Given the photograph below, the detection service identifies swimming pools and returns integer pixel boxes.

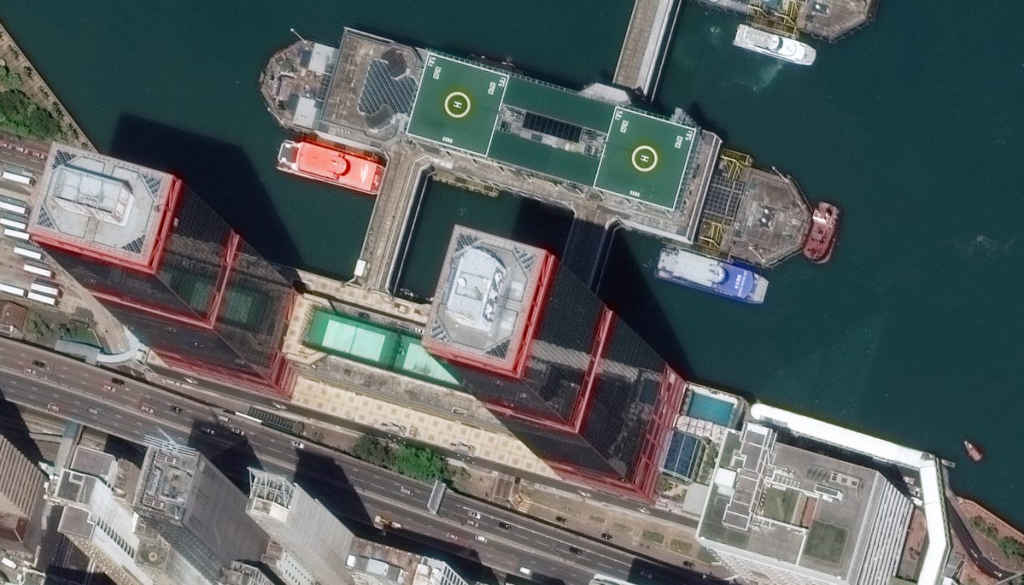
[681,384,753,432]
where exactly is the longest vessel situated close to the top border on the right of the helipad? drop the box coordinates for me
[733,23,817,66]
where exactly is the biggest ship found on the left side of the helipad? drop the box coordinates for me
[278,140,386,195]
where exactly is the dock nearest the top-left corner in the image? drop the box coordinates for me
[258,39,338,135]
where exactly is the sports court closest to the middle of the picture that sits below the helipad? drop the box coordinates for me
[391,329,473,391]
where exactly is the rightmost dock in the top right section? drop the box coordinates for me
[793,0,880,47]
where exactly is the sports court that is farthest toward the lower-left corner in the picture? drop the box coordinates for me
[302,305,400,368]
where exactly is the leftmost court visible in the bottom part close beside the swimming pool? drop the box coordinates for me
[664,431,702,481]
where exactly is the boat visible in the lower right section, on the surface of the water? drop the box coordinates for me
[964,440,983,462]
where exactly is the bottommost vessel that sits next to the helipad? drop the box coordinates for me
[655,248,769,305]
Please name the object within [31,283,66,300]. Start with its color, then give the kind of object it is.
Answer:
white vehicle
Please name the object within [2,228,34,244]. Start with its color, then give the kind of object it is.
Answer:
white vehicle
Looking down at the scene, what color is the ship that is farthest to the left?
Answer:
red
